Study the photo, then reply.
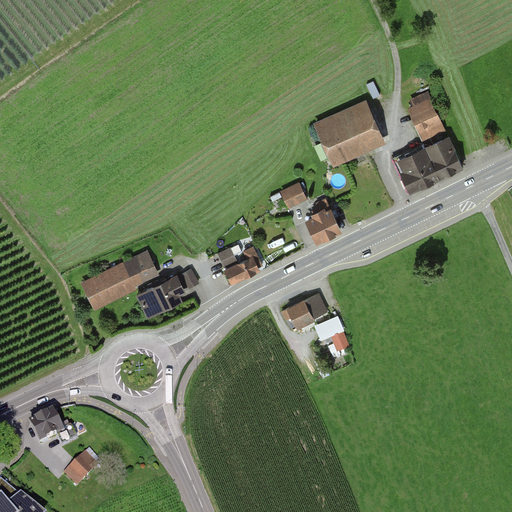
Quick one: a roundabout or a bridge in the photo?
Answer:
roundabout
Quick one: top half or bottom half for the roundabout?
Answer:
bottom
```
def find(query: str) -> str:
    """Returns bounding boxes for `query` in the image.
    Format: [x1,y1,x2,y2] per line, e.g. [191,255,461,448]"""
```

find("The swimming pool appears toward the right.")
[330,174,346,189]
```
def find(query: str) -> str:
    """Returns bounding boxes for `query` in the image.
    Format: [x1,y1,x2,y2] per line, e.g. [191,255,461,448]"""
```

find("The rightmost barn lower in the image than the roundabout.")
[64,447,98,484]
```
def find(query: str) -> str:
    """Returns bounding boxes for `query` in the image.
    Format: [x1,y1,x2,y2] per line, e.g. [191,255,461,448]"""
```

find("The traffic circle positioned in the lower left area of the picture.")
[58,314,220,445]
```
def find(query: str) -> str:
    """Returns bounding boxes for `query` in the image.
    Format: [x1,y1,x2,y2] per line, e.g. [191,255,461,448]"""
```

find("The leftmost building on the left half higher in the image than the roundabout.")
[82,250,160,308]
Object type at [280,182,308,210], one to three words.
shed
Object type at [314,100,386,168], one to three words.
barn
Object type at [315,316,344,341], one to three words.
building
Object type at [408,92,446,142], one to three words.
house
